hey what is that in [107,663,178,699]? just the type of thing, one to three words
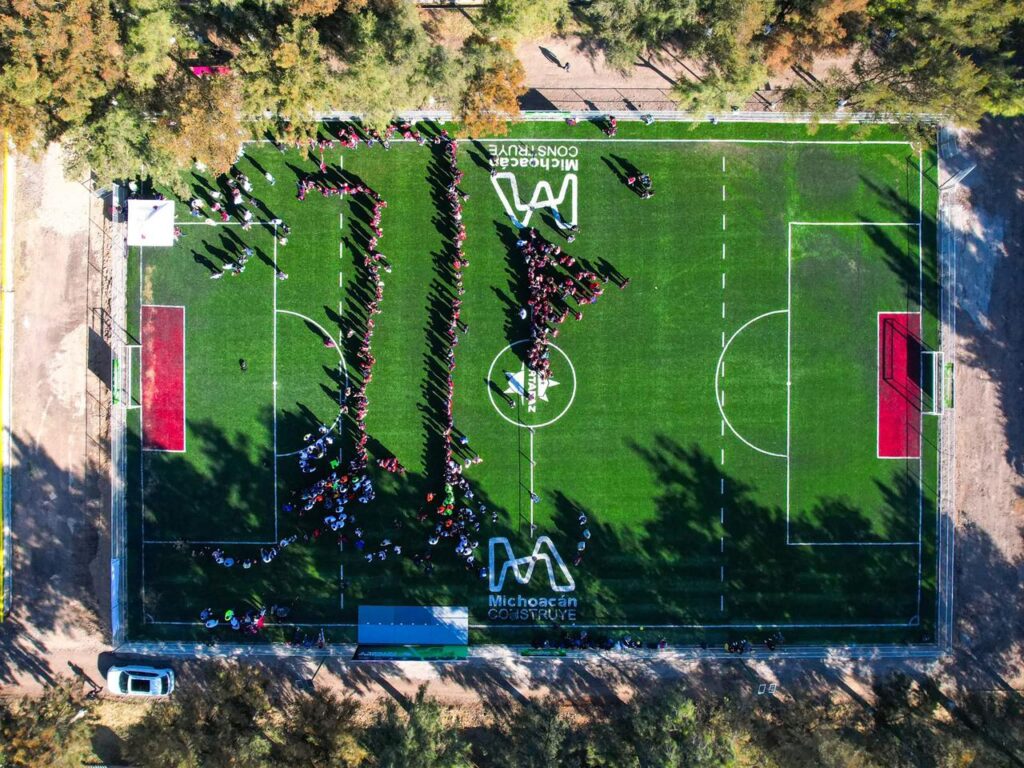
car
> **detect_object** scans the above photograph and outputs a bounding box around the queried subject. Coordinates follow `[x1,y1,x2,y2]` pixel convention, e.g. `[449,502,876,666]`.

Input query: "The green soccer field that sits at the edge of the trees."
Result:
[127,121,938,644]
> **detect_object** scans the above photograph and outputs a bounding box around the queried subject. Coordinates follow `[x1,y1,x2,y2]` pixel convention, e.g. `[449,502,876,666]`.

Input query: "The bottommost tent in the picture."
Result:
[127,199,187,251]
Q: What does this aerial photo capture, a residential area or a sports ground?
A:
sports ground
